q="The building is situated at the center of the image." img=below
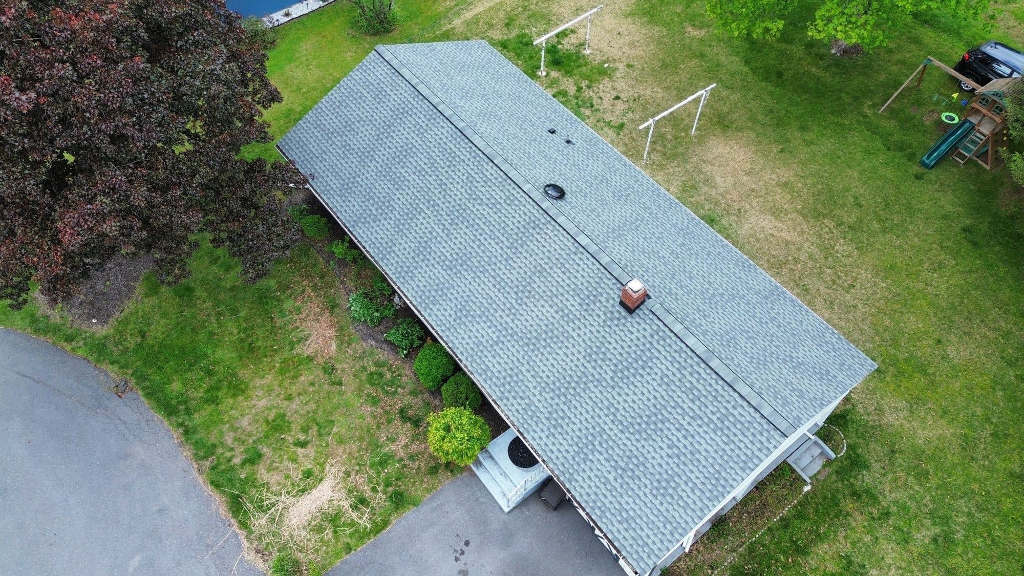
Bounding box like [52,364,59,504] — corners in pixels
[273,40,879,576]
